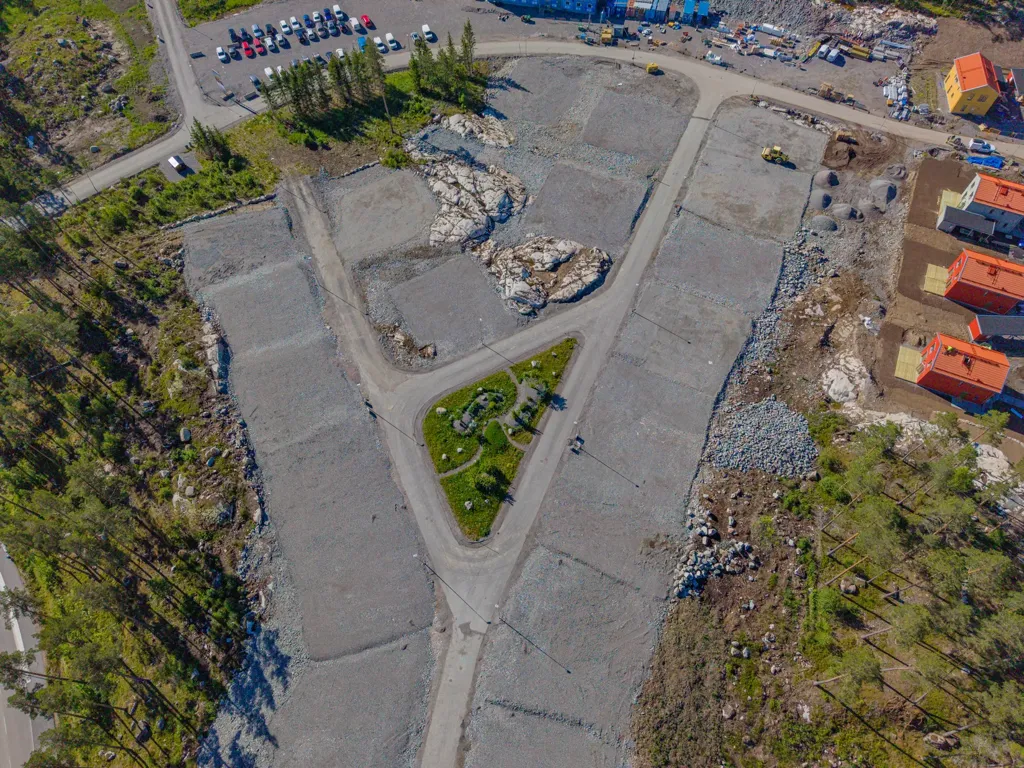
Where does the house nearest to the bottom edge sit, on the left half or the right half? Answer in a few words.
right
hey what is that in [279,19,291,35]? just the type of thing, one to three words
vehicle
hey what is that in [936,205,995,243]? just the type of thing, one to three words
shed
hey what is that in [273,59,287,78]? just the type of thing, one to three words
vehicle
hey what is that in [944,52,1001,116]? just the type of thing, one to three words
house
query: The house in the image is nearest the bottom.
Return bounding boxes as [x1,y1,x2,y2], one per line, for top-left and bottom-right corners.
[918,333,1010,404]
